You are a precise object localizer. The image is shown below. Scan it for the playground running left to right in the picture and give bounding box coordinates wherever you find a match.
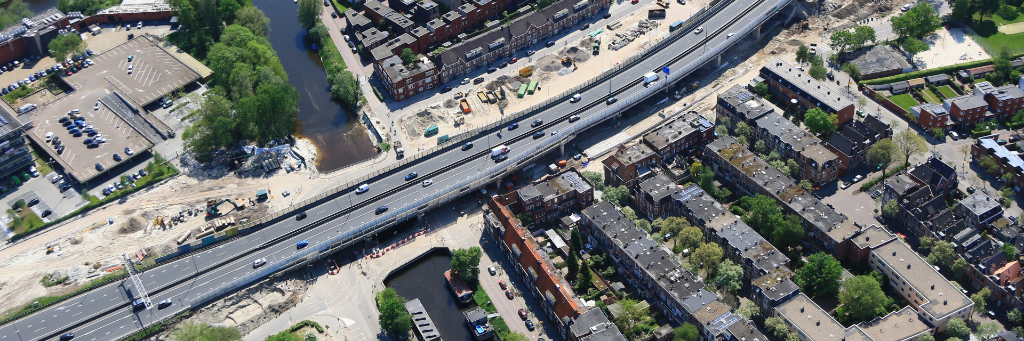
[915,27,989,65]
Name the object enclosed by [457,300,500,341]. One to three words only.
boat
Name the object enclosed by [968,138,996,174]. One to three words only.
house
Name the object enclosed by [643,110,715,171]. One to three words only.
building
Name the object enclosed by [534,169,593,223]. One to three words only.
building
